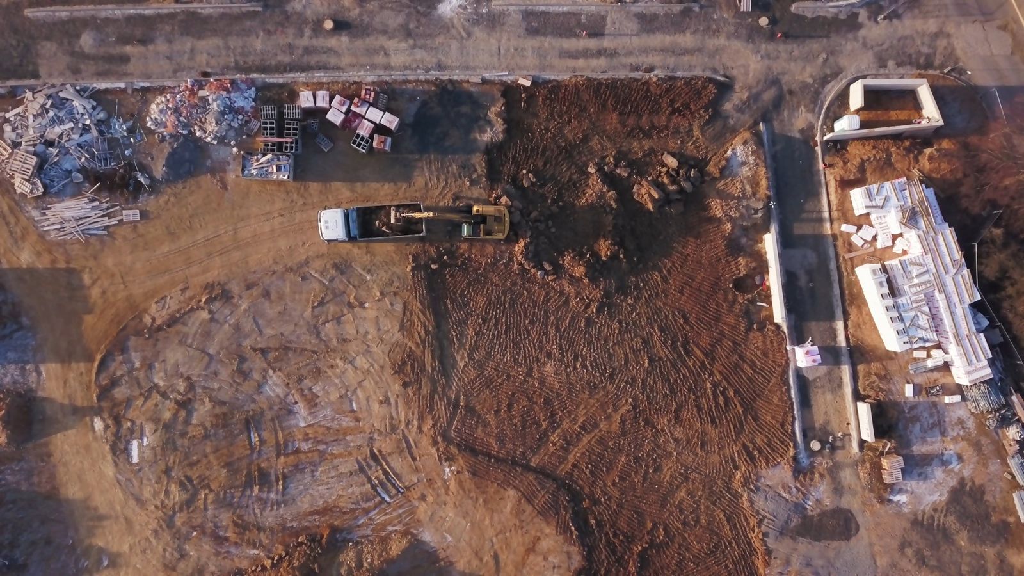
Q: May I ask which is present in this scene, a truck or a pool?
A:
truck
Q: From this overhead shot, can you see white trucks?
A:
Yes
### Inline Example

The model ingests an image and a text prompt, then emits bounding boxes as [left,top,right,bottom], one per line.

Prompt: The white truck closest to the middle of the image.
[309,199,425,245]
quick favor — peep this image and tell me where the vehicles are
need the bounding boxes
[394,201,514,237]
[309,199,425,245]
